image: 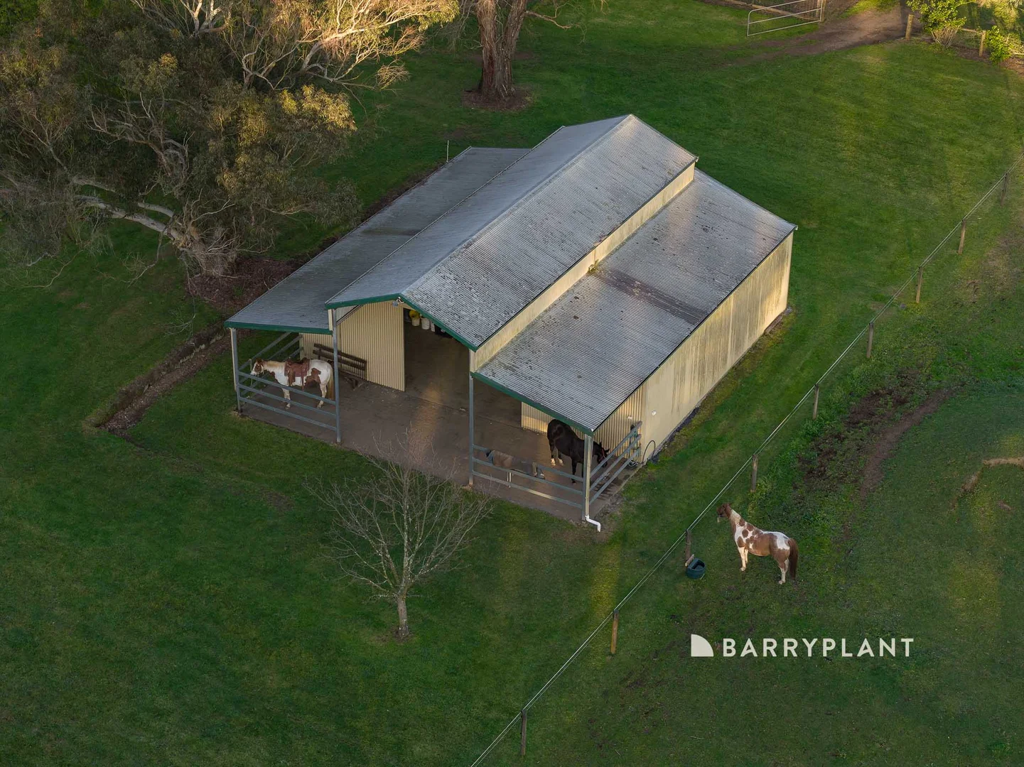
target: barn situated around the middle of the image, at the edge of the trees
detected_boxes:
[222,111,800,533]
